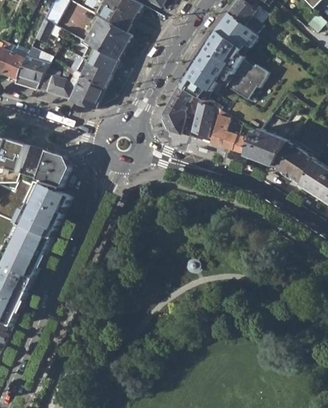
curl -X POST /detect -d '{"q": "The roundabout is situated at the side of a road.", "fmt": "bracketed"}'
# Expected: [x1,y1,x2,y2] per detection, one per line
[95,116,157,171]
